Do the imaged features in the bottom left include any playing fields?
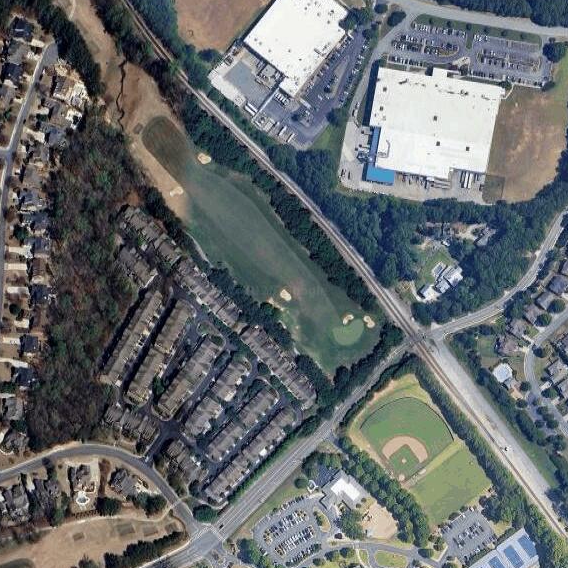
No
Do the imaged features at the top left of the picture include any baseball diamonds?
No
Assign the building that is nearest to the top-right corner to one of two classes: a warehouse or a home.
warehouse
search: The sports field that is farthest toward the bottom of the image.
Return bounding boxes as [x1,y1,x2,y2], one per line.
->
[412,453,488,528]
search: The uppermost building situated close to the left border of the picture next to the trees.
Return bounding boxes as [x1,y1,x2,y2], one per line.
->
[8,18,36,42]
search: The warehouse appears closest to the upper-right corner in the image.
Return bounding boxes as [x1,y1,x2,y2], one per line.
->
[370,67,505,181]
